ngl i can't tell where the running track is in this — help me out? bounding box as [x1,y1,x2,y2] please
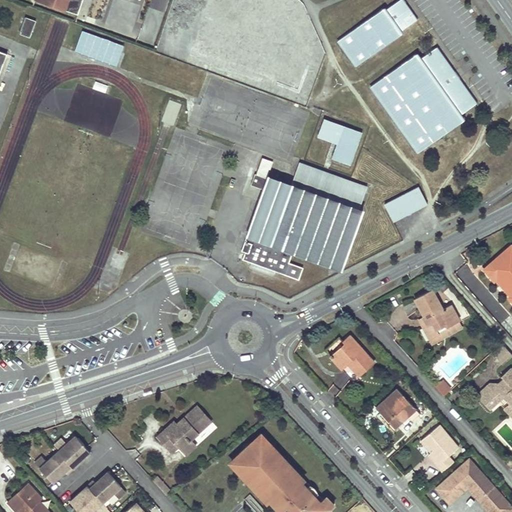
[0,20,150,312]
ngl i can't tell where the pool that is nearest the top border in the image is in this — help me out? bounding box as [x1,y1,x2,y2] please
[434,346,474,383]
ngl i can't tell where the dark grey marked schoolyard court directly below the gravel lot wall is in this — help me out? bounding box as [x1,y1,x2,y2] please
[195,80,301,150]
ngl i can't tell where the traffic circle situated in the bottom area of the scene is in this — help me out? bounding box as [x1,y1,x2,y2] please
[206,298,284,376]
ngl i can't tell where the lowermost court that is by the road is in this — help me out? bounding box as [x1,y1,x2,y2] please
[142,127,228,251]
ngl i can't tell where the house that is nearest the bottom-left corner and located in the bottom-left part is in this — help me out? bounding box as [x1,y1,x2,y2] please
[8,482,52,512]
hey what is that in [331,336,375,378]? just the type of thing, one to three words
house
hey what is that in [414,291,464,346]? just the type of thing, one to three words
house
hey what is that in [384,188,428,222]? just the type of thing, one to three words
shed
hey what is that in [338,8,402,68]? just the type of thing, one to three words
building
